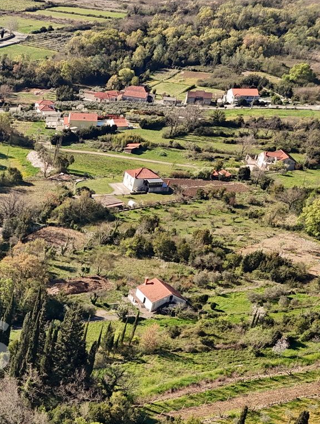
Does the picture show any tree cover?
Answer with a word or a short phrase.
Yes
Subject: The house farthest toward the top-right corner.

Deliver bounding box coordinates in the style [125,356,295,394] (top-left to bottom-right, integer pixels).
[219,83,263,105]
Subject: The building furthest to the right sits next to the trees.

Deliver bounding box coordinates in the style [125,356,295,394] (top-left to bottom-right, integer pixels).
[254,148,301,170]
